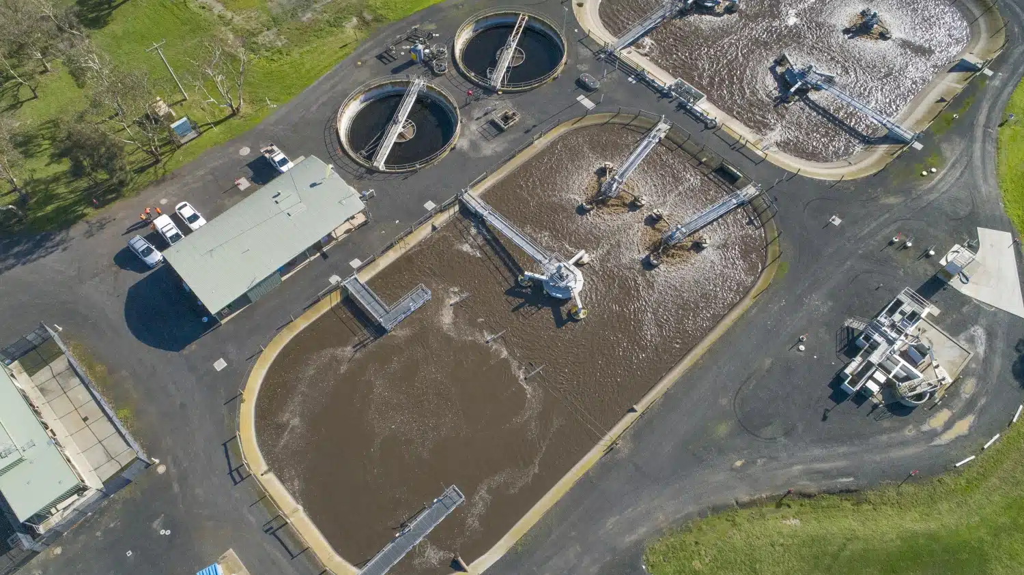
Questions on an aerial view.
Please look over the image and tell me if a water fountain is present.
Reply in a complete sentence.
No, I can't see a single water fountain in this photo.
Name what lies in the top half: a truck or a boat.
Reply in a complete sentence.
It is a truck that can be seen in the top half.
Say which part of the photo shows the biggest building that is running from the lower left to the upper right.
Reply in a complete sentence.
You can find the biggest building that is running from the lower left to the upper right in the left area of the picture.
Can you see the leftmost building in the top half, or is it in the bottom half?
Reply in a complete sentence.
It is in the bottom half that the leftmost building appears.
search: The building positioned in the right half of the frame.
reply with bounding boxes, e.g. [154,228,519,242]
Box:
[835,284,942,399]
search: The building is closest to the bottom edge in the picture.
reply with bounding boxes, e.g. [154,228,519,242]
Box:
[0,360,92,524]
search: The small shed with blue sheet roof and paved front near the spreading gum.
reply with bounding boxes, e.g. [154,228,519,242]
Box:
[169,115,197,145]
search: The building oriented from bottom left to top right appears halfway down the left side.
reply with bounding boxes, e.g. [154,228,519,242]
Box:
[162,157,368,332]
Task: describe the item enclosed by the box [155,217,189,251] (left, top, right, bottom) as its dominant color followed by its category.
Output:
white truck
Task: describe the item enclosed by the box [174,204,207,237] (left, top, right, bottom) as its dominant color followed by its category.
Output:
white car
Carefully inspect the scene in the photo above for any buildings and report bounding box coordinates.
[0,360,92,524]
[162,157,368,332]
[169,115,197,145]
[835,284,942,399]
